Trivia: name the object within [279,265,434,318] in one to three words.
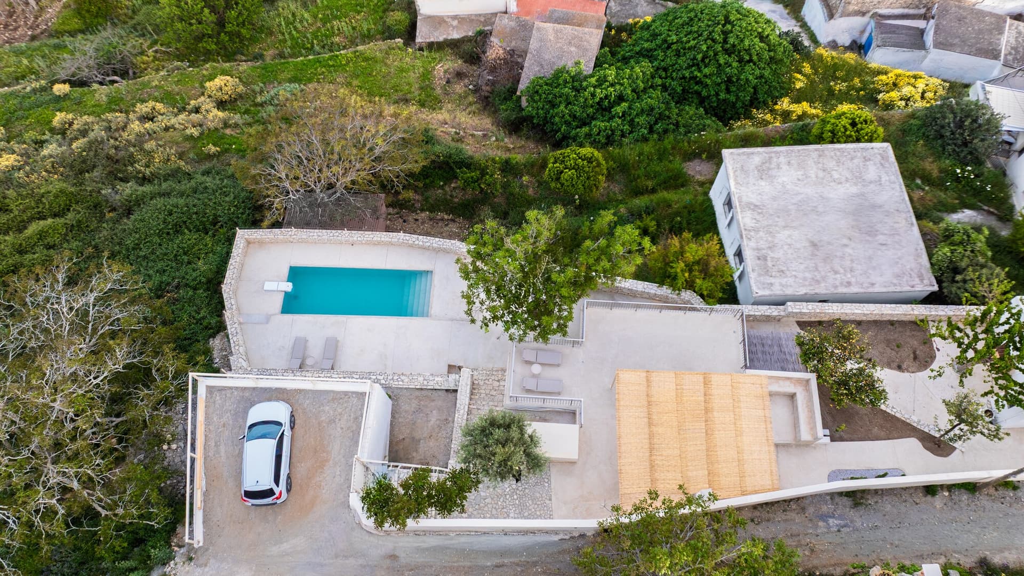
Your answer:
swimming pool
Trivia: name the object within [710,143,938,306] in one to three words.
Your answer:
house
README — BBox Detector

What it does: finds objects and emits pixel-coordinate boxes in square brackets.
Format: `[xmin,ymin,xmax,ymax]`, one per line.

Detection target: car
[240,405,294,510]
